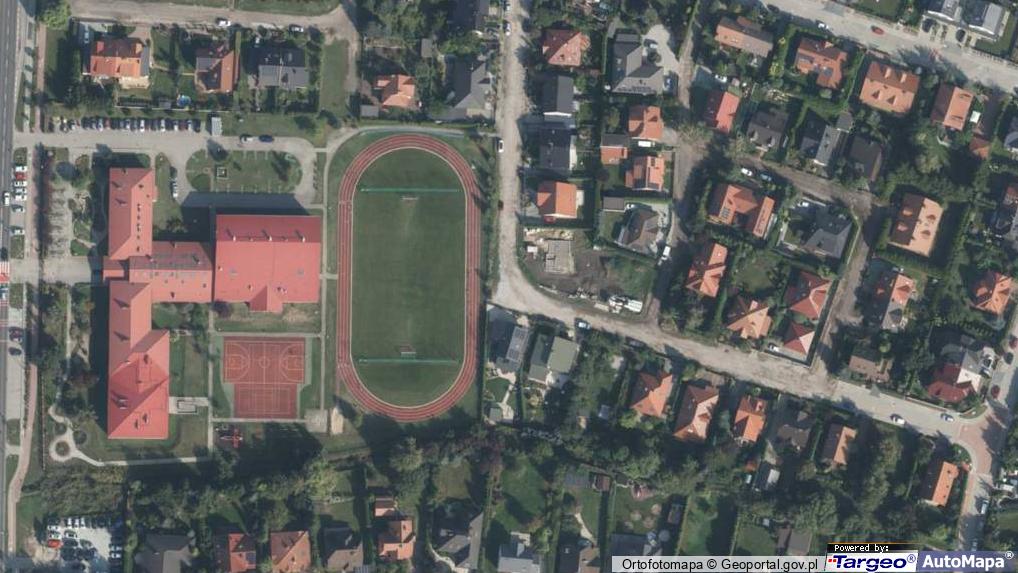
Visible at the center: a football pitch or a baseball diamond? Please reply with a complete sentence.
It is a football pitch that can be seen at the center.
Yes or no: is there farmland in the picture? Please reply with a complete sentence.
No, no farmland is visible.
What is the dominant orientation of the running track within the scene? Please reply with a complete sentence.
In this picture, the running track is oriented from top to bottom.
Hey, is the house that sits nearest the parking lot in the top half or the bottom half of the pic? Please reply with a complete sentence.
The house that sits nearest the parking lot sits in the bottom half of the picture.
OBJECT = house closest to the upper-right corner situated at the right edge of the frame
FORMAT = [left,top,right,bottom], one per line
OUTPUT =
[961,0,1007,41]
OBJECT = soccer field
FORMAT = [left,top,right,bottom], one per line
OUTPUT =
[353,148,466,408]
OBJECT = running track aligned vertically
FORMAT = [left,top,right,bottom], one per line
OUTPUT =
[337,132,481,423]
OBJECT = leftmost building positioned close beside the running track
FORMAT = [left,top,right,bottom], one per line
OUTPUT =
[102,168,215,439]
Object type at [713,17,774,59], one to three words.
house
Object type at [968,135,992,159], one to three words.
shed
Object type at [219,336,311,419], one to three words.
sports court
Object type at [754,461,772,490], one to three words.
building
